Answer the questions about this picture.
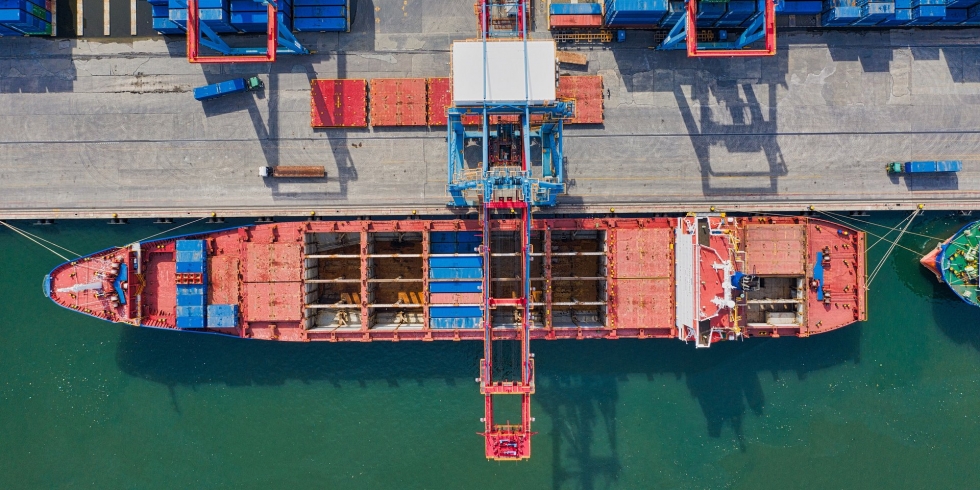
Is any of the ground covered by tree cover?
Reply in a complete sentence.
No, the scene doesn't show any tree cover.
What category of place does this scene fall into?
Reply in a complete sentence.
What you see here is a port.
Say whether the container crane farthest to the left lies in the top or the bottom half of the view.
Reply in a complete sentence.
It is in the top half that the container crane farthest to the left appears.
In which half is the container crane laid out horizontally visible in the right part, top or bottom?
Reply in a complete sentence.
The container crane laid out horizontally visible in the right part sits in the top half of the picture.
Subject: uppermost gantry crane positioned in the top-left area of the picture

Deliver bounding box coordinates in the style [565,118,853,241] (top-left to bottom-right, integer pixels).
[187,0,319,65]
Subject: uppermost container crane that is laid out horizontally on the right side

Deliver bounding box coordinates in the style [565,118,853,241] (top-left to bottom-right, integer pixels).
[646,0,778,58]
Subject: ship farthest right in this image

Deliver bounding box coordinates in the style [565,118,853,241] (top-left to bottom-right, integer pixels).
[922,221,980,304]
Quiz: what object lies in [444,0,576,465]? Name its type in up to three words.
container crane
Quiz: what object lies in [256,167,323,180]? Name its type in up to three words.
vehicle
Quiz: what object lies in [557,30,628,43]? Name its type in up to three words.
vehicle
